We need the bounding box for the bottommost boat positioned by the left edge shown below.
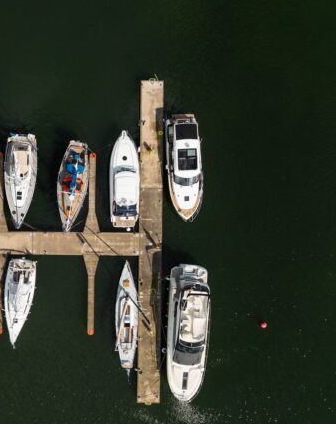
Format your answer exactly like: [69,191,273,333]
[1,256,38,351]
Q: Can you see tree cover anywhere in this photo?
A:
No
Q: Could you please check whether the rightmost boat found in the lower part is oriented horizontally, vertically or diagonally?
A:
vertically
